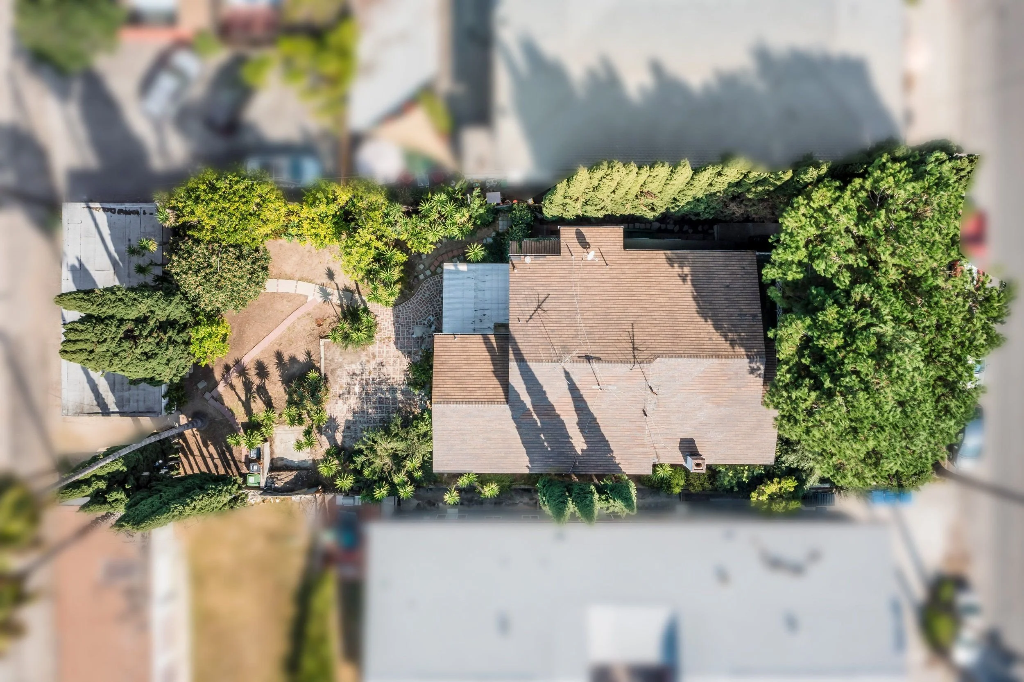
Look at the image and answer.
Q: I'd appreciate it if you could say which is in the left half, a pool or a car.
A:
car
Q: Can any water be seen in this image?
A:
No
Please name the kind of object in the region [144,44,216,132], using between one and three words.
car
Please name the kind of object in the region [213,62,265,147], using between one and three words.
car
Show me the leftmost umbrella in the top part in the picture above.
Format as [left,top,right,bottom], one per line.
[353,131,400,178]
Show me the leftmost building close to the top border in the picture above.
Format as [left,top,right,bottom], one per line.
[179,0,233,53]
